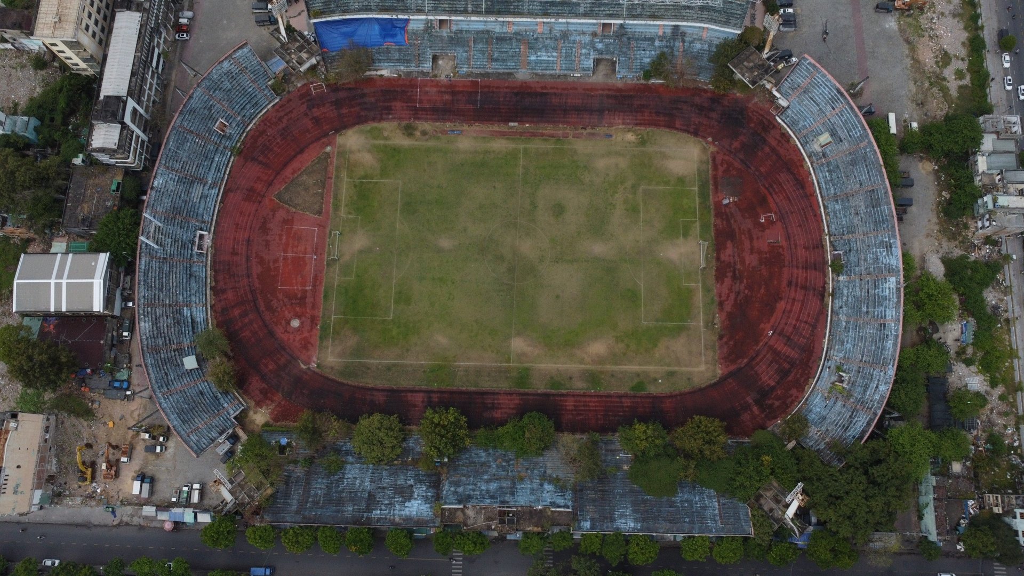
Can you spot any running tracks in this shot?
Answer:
Yes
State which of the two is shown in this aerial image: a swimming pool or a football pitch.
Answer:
football pitch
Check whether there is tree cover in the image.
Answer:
Yes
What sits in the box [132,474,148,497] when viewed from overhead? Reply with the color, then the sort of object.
white vehicle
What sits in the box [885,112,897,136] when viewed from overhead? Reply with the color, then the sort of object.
white vehicle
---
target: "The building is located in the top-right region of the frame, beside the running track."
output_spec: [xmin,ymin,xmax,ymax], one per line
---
[725,46,776,96]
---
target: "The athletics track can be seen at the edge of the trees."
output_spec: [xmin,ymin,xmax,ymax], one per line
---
[211,78,827,438]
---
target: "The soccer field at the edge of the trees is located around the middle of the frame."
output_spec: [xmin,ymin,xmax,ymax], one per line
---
[315,121,721,396]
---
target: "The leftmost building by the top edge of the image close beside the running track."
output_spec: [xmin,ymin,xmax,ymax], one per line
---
[86,0,176,170]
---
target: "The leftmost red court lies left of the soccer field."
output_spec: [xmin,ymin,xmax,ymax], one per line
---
[275,226,317,289]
